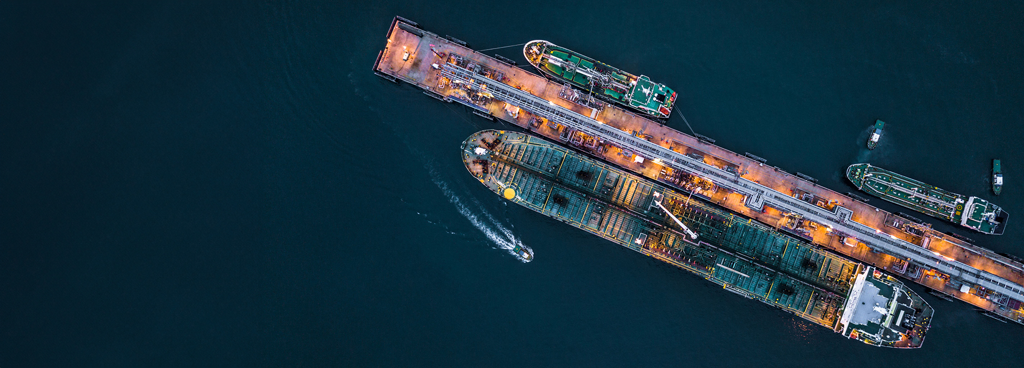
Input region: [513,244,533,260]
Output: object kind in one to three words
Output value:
boat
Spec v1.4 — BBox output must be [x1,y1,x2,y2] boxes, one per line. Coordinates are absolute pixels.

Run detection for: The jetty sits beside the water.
[374,16,1024,322]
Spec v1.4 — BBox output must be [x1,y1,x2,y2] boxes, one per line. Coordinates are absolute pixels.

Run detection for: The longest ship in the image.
[460,130,936,346]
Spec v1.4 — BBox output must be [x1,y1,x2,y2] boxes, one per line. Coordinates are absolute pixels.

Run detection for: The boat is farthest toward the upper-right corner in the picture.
[992,159,1004,196]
